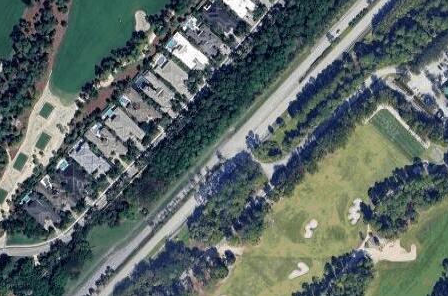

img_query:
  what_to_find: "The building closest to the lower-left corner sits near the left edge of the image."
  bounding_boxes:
[20,192,62,228]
